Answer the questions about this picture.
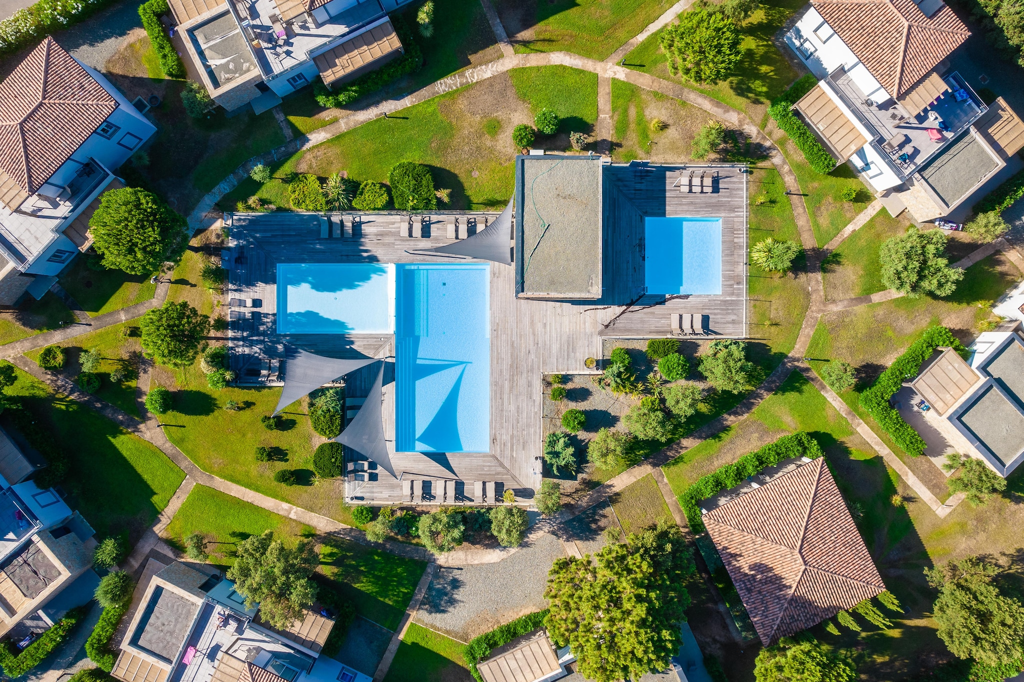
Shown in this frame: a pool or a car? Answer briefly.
pool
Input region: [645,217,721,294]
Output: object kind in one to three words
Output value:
swimming pool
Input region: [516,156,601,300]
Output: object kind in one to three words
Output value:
building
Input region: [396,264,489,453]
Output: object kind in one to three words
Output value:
swimming pool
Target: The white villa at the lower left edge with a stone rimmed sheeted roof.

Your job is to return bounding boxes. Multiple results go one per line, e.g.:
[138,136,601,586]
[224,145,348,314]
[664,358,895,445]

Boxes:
[0,475,98,640]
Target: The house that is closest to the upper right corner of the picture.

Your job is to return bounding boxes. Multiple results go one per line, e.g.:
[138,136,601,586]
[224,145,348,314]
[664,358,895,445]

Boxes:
[783,0,1001,218]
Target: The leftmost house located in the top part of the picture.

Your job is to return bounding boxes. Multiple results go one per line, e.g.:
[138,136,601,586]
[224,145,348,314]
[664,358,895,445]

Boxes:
[0,35,154,302]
